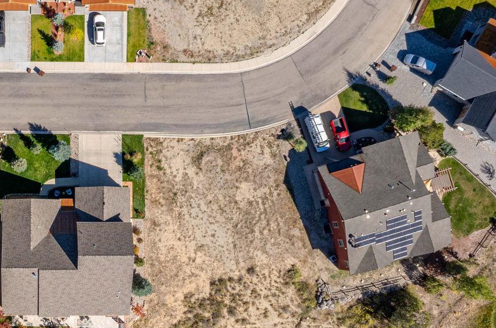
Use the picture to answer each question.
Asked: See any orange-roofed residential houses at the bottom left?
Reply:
No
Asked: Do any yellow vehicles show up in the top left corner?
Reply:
No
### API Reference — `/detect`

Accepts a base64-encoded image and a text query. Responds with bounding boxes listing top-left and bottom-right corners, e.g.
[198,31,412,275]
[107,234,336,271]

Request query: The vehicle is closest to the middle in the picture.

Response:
[304,113,329,152]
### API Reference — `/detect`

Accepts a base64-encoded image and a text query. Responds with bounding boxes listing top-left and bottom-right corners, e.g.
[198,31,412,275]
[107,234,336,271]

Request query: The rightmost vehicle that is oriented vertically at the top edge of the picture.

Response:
[92,13,108,47]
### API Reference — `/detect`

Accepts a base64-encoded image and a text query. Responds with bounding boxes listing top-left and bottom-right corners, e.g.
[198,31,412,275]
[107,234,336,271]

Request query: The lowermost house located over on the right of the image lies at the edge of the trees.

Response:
[309,130,452,274]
